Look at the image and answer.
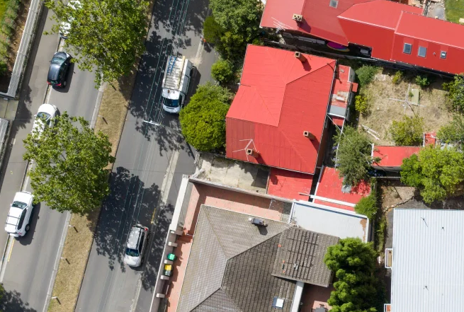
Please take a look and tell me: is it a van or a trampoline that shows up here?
van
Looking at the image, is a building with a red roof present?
Yes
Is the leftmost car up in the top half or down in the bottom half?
bottom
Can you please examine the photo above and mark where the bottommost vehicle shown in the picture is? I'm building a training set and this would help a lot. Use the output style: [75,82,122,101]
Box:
[124,223,149,268]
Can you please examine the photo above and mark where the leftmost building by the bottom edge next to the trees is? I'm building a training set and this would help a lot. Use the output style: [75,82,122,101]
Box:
[176,199,373,312]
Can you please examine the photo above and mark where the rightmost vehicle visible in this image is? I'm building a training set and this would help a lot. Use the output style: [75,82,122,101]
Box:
[160,58,189,110]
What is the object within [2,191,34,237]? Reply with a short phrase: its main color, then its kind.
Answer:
white car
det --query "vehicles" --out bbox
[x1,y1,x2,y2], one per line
[48,51,72,90]
[160,58,189,110]
[2,191,34,237]
[124,223,149,268]
[31,102,57,131]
